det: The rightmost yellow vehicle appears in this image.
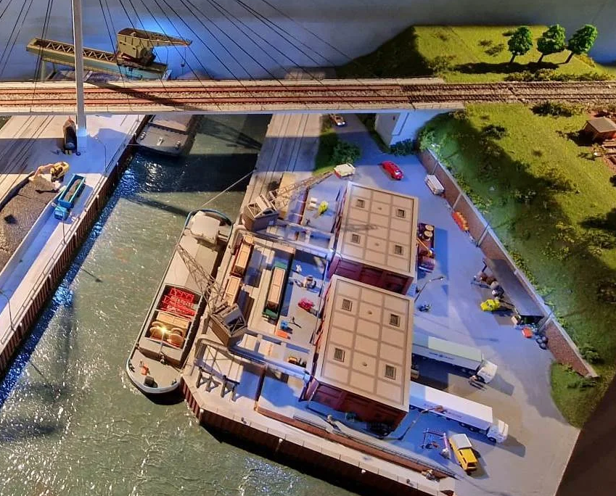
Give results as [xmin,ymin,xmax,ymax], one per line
[478,299,504,311]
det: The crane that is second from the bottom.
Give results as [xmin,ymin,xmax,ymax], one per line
[232,167,337,259]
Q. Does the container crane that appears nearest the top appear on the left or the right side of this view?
left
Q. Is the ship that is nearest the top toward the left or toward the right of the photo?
left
